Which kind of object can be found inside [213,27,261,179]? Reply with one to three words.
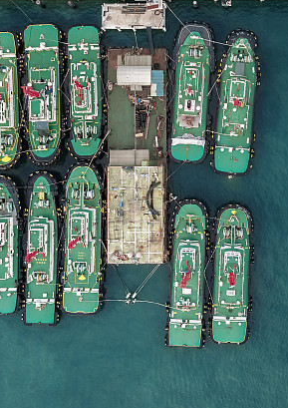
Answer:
boat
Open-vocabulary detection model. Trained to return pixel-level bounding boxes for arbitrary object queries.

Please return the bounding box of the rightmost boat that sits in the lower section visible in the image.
[210,201,254,345]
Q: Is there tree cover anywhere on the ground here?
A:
No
